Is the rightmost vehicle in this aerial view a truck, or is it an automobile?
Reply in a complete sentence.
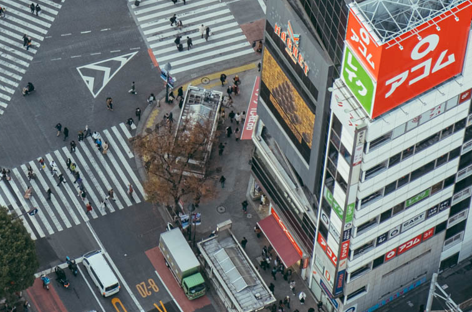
The rightmost vehicle is a truck.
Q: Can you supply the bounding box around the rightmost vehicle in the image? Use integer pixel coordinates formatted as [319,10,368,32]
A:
[155,216,211,299]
